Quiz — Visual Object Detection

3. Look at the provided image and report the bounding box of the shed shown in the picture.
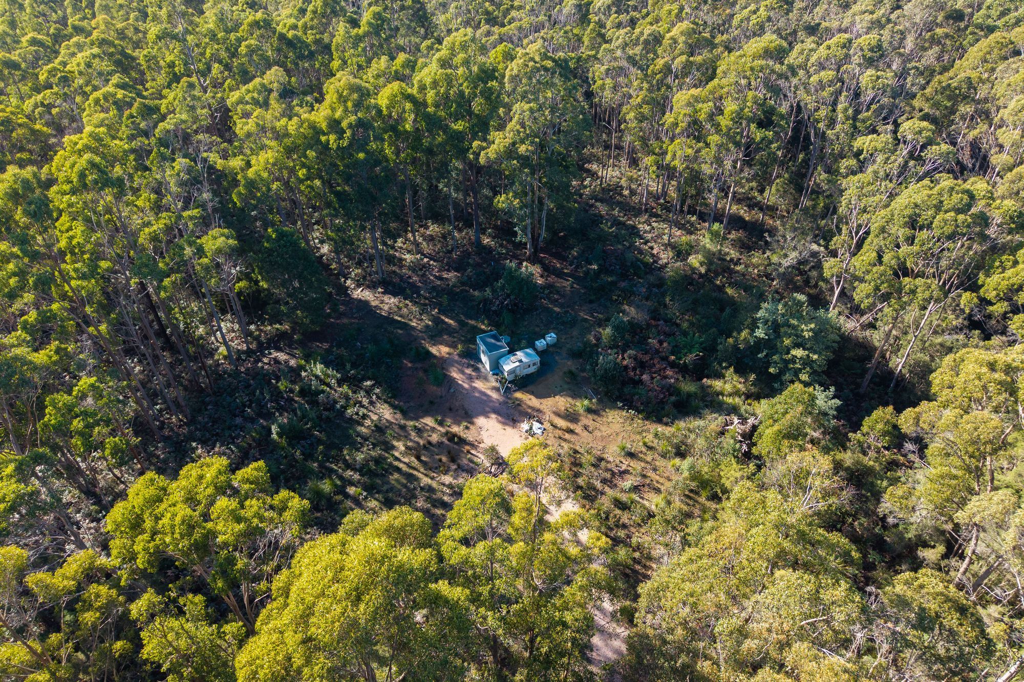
[477,330,508,373]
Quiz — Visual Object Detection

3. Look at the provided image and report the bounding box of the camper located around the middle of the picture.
[492,349,540,383]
